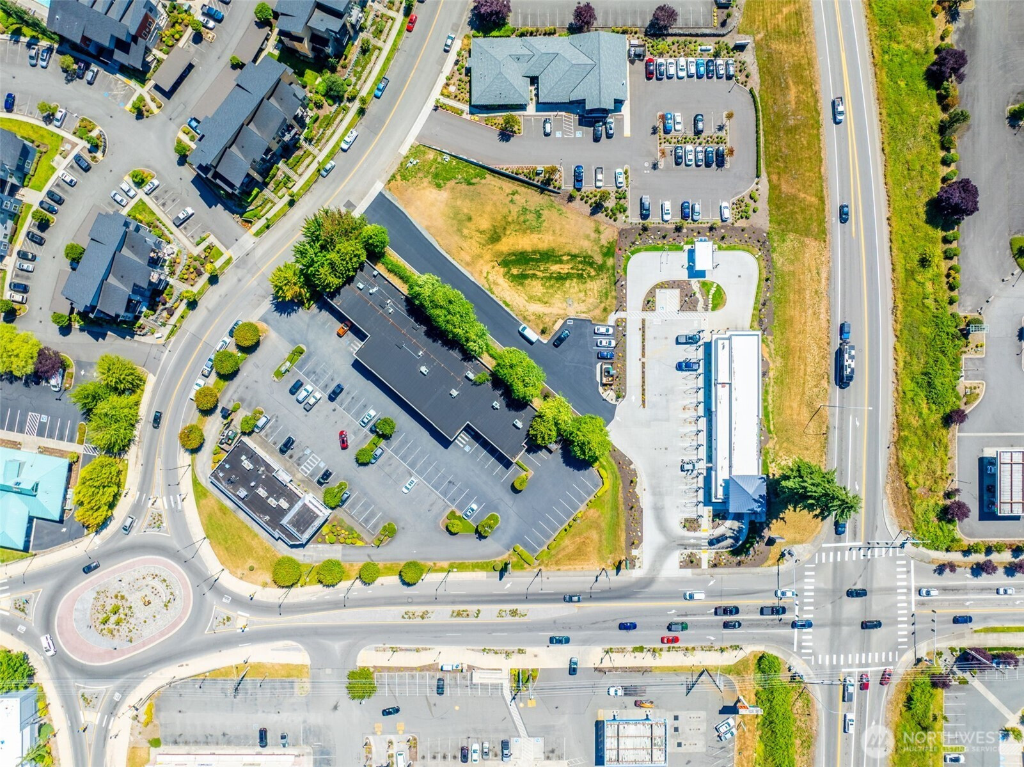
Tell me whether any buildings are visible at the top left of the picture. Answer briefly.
Yes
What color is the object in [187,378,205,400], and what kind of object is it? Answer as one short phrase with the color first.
white vehicle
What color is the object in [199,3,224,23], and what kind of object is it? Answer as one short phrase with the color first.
blue vehicle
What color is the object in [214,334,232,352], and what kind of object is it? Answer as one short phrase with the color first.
white car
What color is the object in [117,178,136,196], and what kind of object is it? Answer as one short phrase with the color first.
white car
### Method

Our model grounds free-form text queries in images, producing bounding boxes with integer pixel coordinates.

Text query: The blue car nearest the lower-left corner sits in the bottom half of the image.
[80,560,102,574]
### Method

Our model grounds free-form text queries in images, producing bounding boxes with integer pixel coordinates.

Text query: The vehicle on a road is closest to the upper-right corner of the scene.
[833,98,845,123]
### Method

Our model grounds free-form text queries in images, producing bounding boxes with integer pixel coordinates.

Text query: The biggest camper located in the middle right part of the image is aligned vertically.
[836,341,853,388]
